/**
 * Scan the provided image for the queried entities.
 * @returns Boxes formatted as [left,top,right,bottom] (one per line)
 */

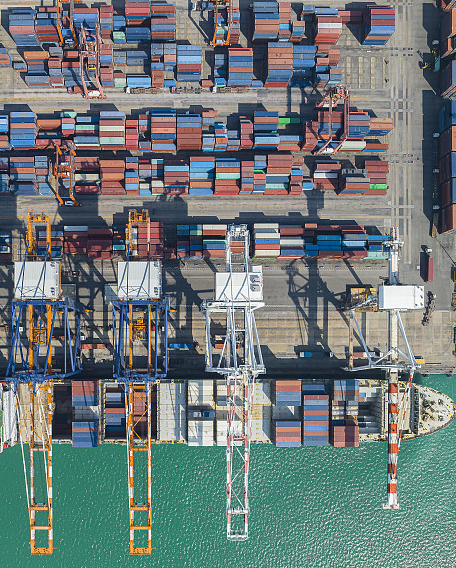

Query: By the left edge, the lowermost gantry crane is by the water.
[6,210,93,555]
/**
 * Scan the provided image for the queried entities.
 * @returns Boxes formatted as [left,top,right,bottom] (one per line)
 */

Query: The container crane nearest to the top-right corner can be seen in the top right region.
[315,88,349,155]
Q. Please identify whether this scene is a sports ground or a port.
port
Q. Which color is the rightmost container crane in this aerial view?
white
